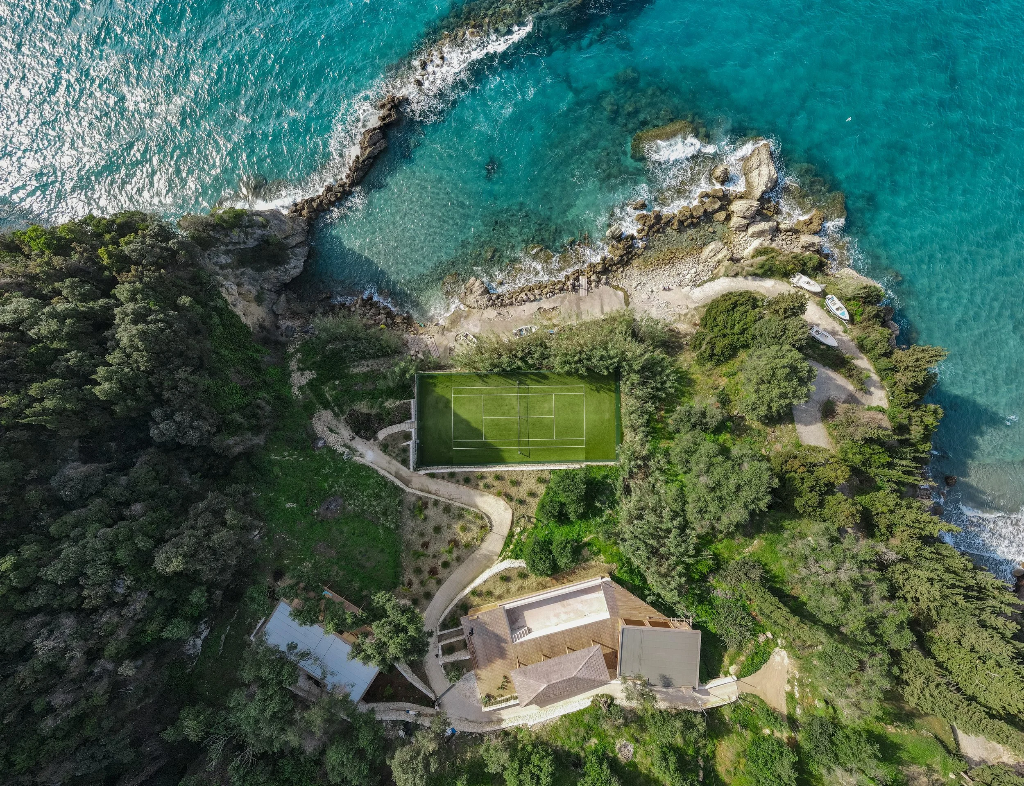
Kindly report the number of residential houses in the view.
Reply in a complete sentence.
The photo contains 3 residential houses.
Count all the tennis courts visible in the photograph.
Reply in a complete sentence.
Altogether the scene contains 1 tennis court.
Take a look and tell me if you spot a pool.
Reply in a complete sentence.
Yes, a pool can be made out from above.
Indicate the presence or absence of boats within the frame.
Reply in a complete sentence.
Yes, the picture does show a boat.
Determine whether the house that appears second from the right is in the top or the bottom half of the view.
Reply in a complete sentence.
The house that appears second from the right sits in the bottom half of the picture.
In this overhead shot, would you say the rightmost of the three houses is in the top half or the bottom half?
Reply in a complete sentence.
The rightmost of the three houses is in the bottom half of the image.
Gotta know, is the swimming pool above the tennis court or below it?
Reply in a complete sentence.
Relative to the tennis court, the swimming pool lies below it.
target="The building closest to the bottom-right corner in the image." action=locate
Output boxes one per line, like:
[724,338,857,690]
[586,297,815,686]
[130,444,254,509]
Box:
[614,617,701,690]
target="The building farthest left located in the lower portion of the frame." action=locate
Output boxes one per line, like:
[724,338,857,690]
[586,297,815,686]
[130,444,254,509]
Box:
[258,598,381,706]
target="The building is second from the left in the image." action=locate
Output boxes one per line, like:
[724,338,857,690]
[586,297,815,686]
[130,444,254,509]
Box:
[510,639,611,708]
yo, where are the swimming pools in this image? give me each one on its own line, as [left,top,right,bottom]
[501,577,611,644]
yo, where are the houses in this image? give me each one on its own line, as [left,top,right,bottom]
[614,617,701,690]
[258,598,381,706]
[510,639,611,708]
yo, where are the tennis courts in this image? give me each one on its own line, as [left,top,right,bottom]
[416,370,620,467]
